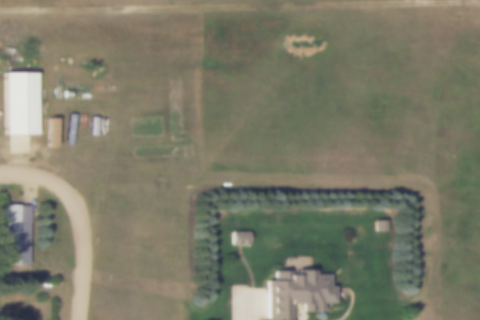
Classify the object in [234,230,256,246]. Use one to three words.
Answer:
shed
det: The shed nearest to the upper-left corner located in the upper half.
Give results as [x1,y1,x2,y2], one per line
[6,72,42,134]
